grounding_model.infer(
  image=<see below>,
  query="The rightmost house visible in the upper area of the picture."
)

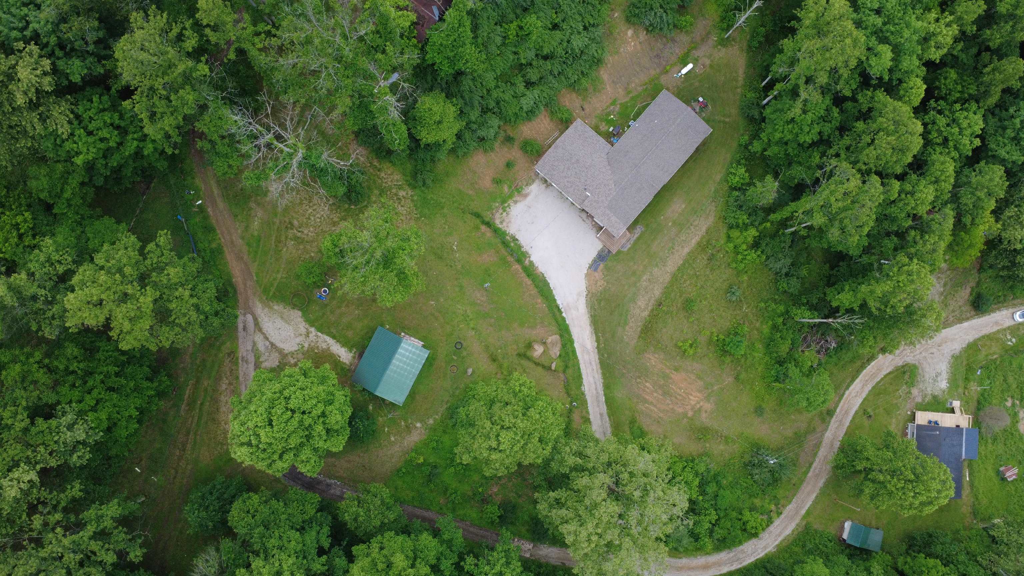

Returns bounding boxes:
[534,87,711,239]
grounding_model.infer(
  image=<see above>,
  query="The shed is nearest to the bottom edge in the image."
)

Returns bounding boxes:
[838,519,883,551]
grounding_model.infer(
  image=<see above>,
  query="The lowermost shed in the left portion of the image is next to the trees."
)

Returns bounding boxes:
[352,326,429,407]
